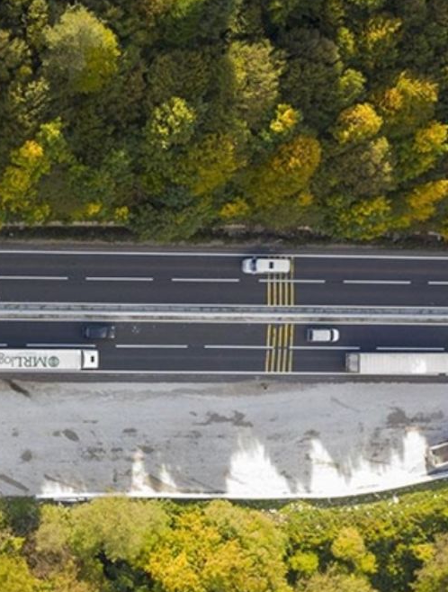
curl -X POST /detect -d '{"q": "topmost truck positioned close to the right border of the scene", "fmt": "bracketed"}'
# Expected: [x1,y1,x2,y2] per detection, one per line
[343,353,448,376]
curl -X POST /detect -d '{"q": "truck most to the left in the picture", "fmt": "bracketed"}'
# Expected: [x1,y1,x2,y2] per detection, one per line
[0,349,97,371]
